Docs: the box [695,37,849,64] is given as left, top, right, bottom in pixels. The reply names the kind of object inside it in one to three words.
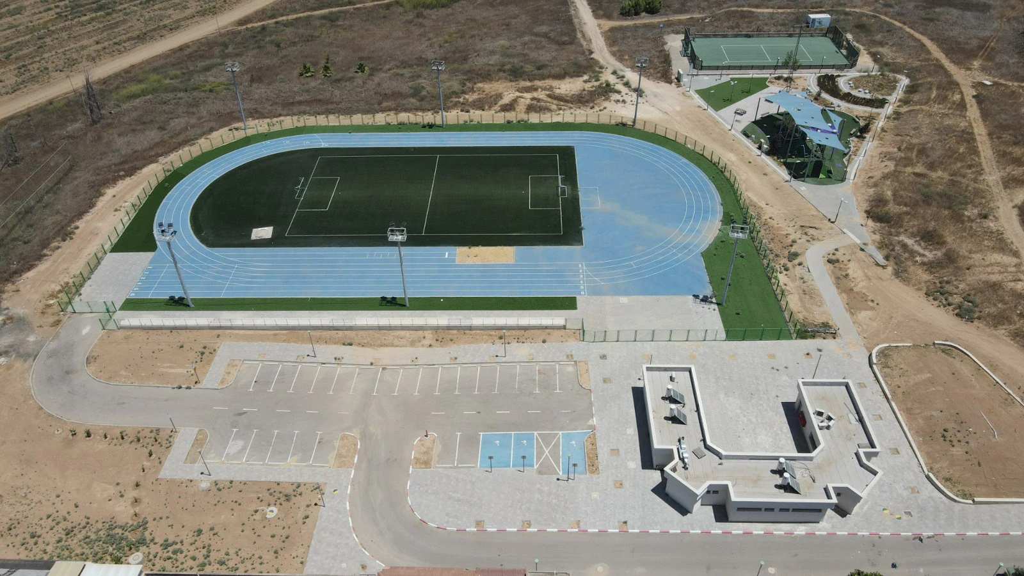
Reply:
sports court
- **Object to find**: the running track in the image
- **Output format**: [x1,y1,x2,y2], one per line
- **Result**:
[128,131,721,298]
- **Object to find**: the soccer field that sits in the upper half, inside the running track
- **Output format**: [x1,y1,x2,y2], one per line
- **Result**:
[188,146,583,247]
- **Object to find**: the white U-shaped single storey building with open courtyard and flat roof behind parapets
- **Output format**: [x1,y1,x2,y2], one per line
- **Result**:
[642,364,883,520]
